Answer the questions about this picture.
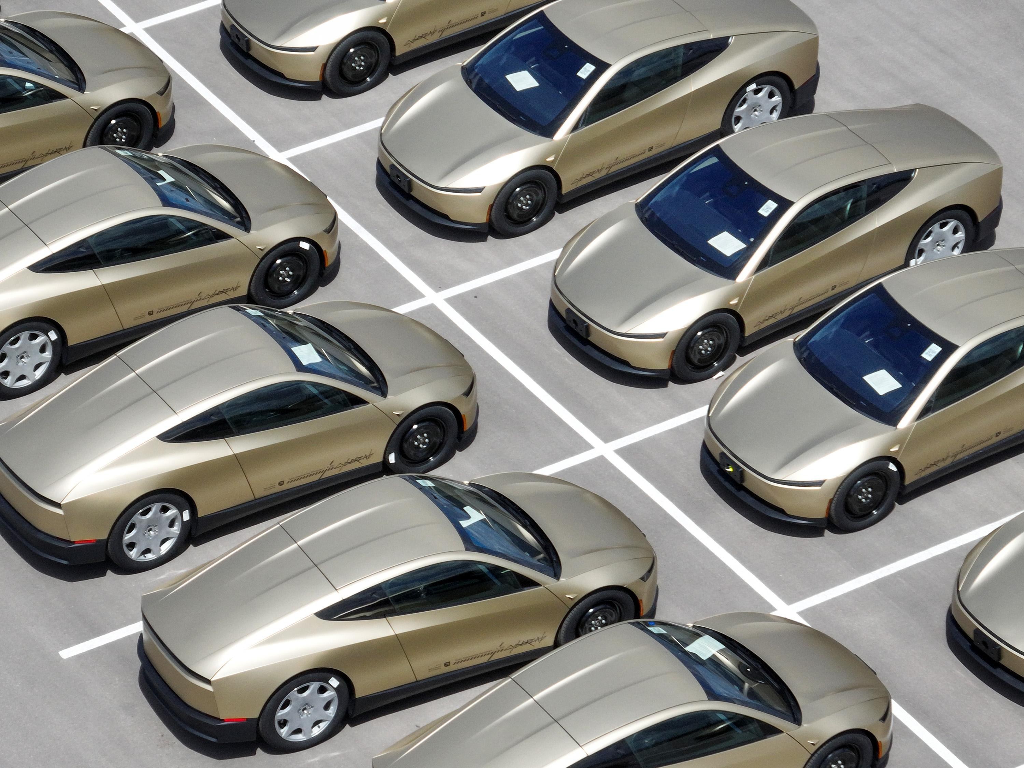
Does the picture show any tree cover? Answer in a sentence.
No, the picture contains no tree cover.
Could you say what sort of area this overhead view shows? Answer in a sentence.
It's a parking lot.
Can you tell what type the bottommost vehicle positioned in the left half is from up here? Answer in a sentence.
The bottommost vehicle positioned in the left half appears to be an automobile.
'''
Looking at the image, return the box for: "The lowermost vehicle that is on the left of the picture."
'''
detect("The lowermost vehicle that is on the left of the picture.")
[136,475,661,751]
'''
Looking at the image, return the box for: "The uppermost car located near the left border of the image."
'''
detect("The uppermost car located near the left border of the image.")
[0,15,175,182]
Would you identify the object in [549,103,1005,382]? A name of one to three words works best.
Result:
car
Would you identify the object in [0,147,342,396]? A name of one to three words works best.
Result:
car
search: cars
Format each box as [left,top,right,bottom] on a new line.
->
[136,475,661,751]
[0,147,342,396]
[0,304,479,570]
[372,613,895,768]
[953,519,1024,697]
[376,0,822,236]
[549,103,1005,382]
[220,0,557,94]
[0,15,175,182]
[703,248,1024,531]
